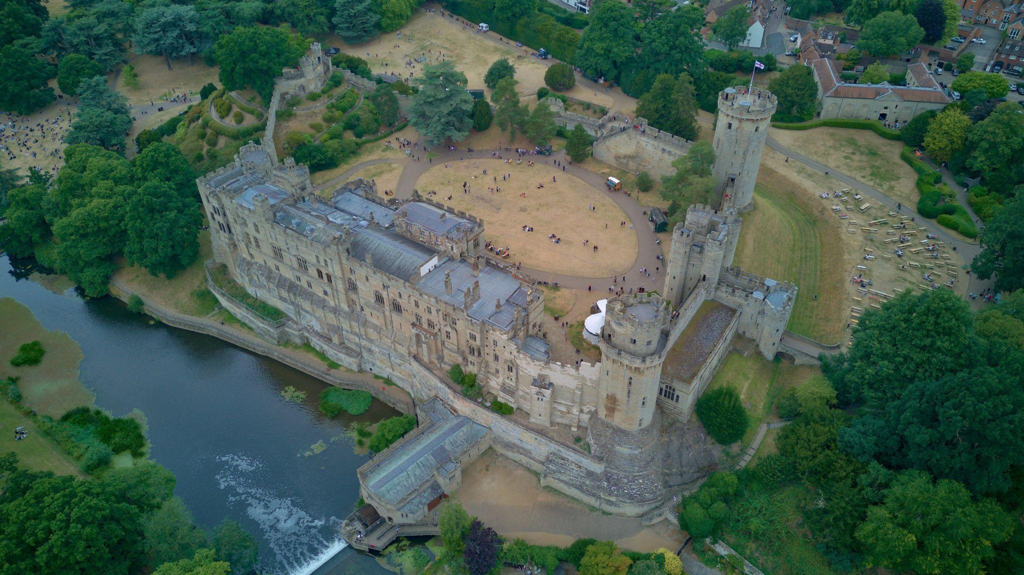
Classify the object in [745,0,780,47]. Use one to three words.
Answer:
house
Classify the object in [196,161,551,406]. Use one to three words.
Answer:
building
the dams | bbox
[285,532,345,575]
